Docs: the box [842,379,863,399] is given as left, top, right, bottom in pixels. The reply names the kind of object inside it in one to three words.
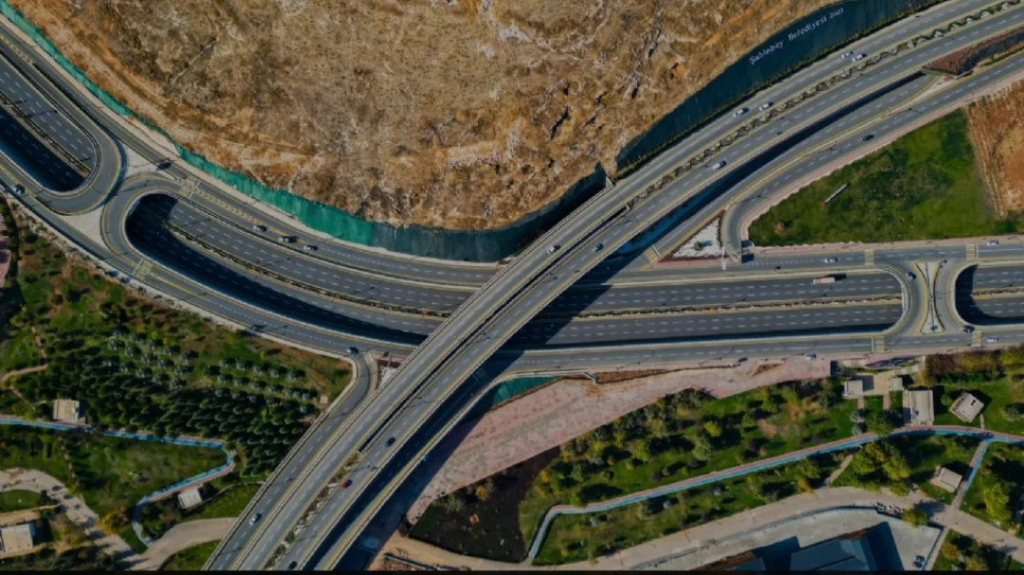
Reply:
building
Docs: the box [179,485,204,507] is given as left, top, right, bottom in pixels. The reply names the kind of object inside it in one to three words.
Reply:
building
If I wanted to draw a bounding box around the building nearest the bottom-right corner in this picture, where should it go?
[930,465,961,493]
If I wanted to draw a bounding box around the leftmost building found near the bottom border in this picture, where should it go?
[0,521,40,552]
